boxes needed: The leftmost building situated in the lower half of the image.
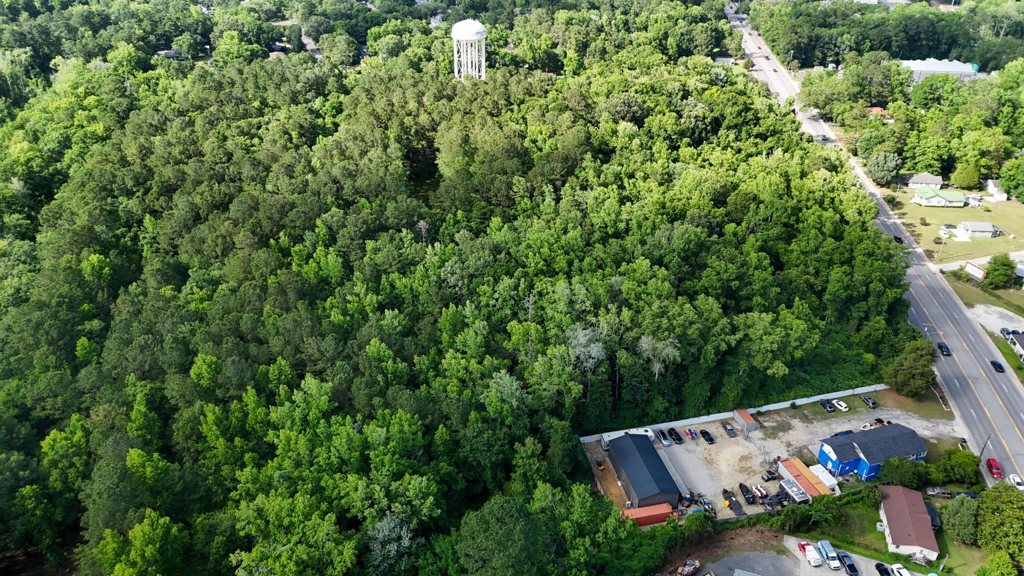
[608,434,681,508]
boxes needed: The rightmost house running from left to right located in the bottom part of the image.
[815,425,932,481]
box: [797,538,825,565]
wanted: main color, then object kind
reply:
white truck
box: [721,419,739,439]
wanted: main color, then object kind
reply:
gray vehicle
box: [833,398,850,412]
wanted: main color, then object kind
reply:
white car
